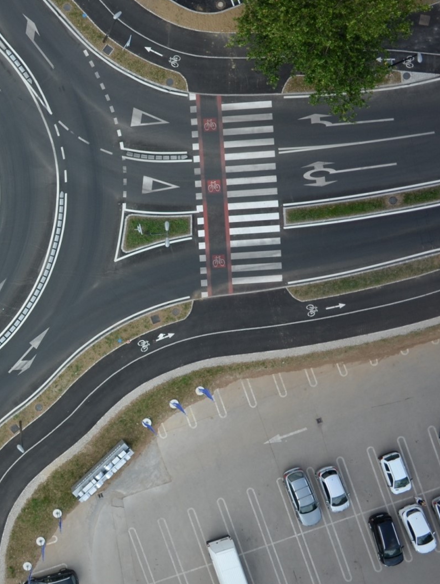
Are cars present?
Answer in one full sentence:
Yes, there is a car in the image.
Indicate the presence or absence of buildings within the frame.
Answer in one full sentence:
No, the frame has no building in it.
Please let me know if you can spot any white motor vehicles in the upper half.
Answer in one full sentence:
No, there's no white motor vehicle to be seen in the upper half.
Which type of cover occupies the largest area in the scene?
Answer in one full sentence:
For the most part, this view shows paved ground.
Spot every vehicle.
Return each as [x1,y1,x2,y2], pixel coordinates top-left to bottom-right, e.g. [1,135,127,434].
[201,532,248,584]
[23,567,79,584]
[311,461,352,513]
[279,467,322,524]
[376,446,412,495]
[361,509,407,567]
[394,504,437,555]
[425,492,440,529]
